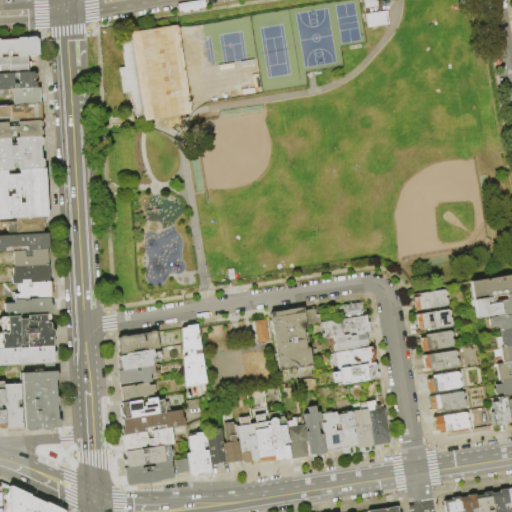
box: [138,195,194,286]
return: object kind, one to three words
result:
playground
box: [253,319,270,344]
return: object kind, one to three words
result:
house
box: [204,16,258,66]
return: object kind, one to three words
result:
tennis court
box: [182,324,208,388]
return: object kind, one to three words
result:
building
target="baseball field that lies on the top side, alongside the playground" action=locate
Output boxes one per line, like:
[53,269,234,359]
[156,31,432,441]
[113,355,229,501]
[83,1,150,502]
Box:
[202,108,272,189]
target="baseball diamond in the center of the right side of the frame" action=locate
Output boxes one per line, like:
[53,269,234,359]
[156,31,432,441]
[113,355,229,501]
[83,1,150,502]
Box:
[395,159,486,254]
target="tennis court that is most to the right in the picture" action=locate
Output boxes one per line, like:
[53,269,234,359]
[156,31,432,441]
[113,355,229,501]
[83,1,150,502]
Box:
[334,0,366,46]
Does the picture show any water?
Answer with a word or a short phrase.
No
